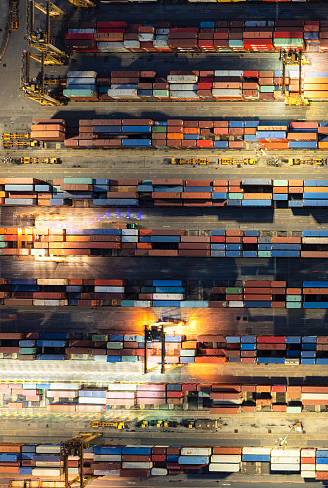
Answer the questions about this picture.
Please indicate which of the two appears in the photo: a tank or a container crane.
container crane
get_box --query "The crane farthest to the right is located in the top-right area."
[279,46,314,105]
